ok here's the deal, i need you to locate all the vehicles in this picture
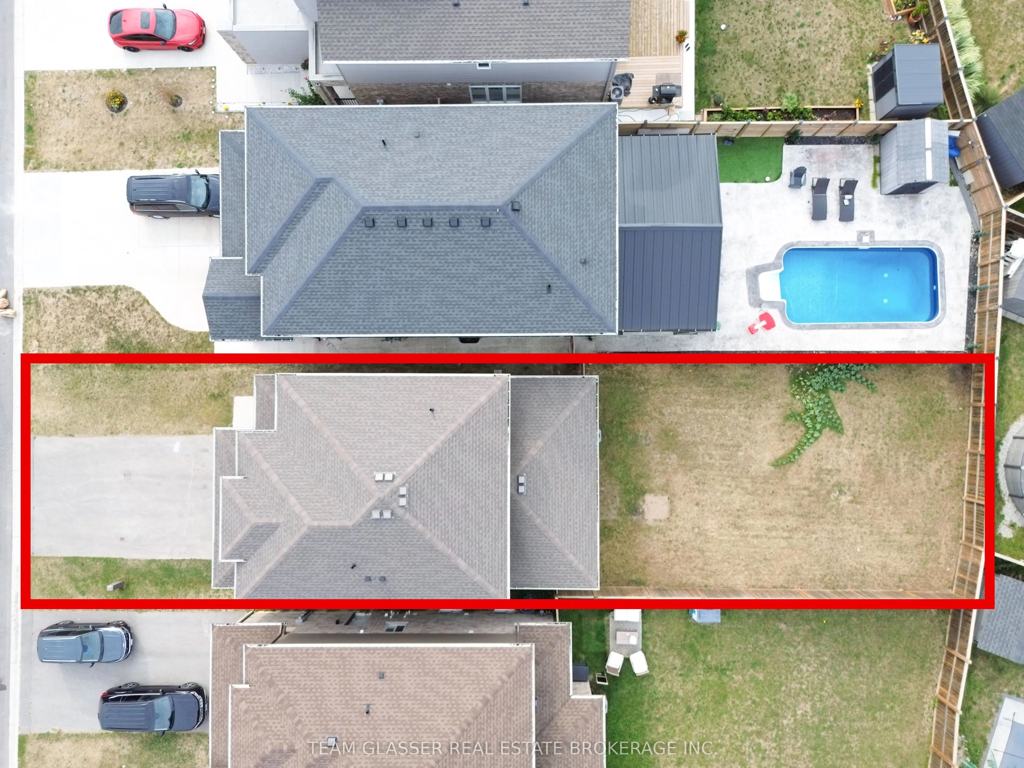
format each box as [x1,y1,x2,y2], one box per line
[126,166,217,219]
[34,620,141,675]
[106,0,210,53]
[96,681,208,740]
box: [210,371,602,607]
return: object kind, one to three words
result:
house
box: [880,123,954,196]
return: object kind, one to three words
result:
shed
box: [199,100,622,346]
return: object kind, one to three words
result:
house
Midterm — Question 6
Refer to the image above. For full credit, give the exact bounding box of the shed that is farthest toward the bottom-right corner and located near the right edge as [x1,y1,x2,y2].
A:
[961,568,1024,664]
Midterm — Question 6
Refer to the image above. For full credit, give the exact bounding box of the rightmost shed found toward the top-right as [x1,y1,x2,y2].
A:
[977,92,1024,187]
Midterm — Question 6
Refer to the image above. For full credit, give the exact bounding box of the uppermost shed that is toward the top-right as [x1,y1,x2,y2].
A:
[873,42,945,118]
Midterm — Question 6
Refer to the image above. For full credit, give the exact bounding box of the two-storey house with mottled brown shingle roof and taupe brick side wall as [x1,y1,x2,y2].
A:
[207,601,608,768]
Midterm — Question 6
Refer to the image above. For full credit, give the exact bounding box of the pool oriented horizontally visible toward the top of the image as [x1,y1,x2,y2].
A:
[746,230,947,330]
